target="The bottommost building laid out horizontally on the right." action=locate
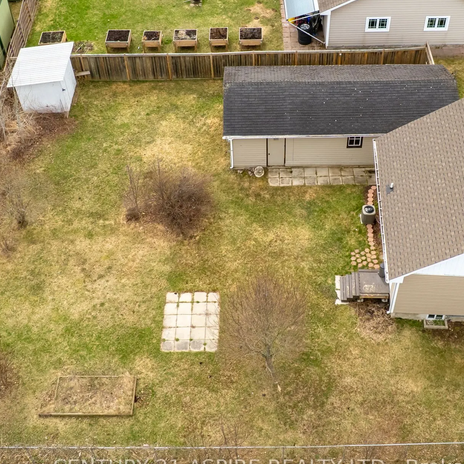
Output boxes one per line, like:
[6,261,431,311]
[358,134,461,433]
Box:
[222,65,460,172]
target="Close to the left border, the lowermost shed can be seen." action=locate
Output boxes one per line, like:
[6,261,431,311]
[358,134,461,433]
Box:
[7,40,83,113]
